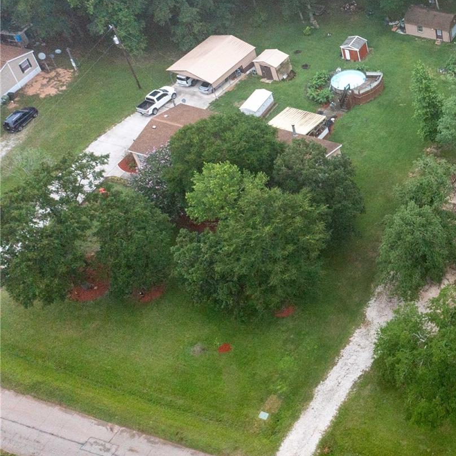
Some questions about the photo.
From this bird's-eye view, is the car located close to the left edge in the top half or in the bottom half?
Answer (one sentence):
The car located close to the left edge sits in the top half of the picture.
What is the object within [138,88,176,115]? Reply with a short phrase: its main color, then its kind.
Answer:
white truck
